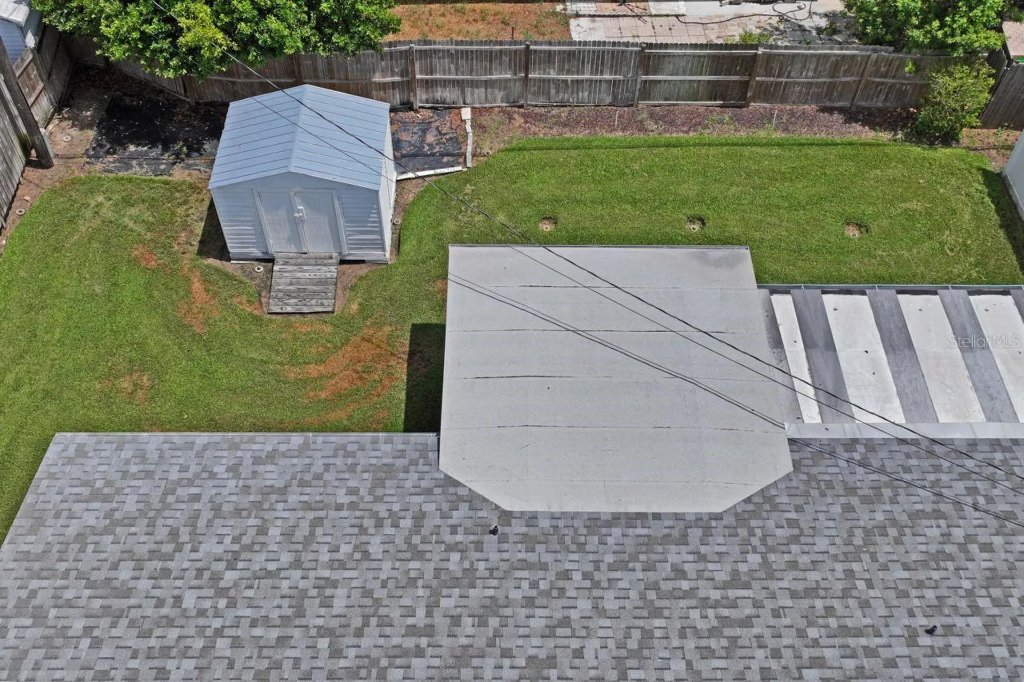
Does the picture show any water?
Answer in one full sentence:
No, there is no water in the image.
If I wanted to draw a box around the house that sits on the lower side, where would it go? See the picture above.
[0,243,1024,682]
